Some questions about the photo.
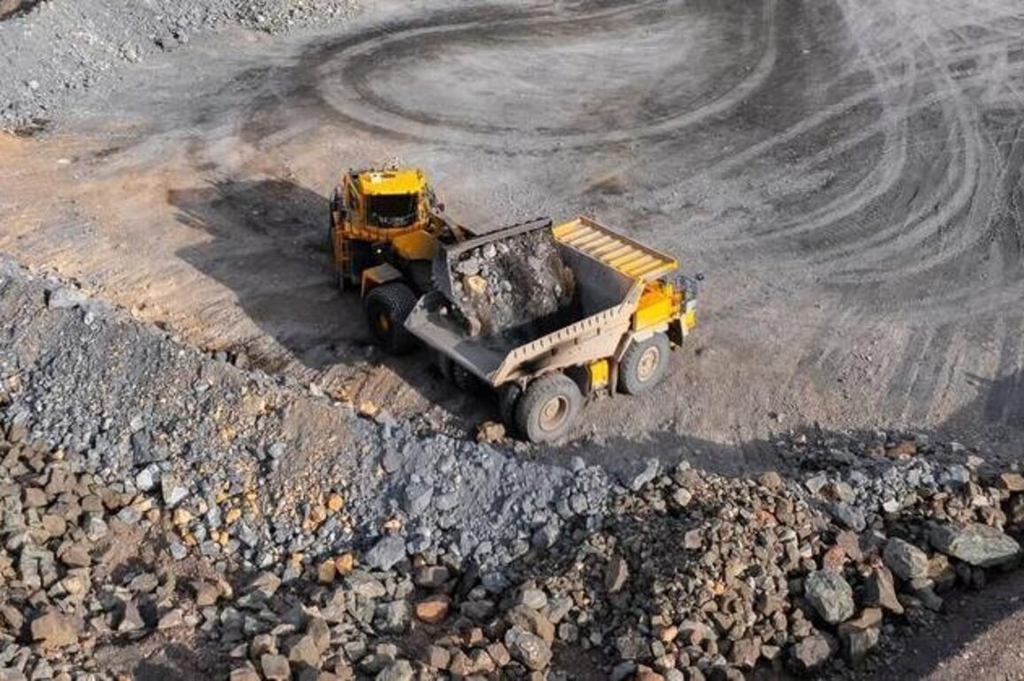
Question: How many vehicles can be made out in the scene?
2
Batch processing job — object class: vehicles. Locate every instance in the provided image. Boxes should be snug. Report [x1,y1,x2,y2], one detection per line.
[404,212,705,446]
[338,163,585,355]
